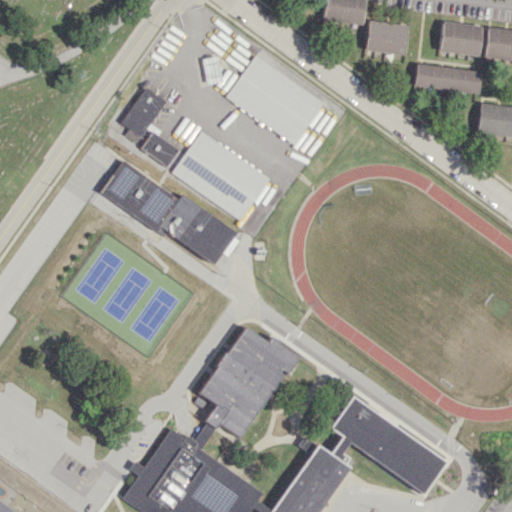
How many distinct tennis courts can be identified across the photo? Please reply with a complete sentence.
I count 3 tennis courts.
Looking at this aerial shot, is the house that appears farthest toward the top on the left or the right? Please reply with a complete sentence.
It is on the right.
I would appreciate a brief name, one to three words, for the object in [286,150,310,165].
vehicle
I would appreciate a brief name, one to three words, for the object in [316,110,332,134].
vehicle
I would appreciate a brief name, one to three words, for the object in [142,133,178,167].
building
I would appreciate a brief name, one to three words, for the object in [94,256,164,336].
tennis court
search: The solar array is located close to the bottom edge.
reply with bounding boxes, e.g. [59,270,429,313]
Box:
[193,474,238,512]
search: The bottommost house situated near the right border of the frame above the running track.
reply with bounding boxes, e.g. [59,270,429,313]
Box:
[478,102,512,138]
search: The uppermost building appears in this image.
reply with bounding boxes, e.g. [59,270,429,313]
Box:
[324,0,369,28]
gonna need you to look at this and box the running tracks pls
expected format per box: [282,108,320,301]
[288,164,512,422]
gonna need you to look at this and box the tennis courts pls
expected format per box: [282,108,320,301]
[62,234,136,317]
[94,256,164,336]
[121,274,192,356]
